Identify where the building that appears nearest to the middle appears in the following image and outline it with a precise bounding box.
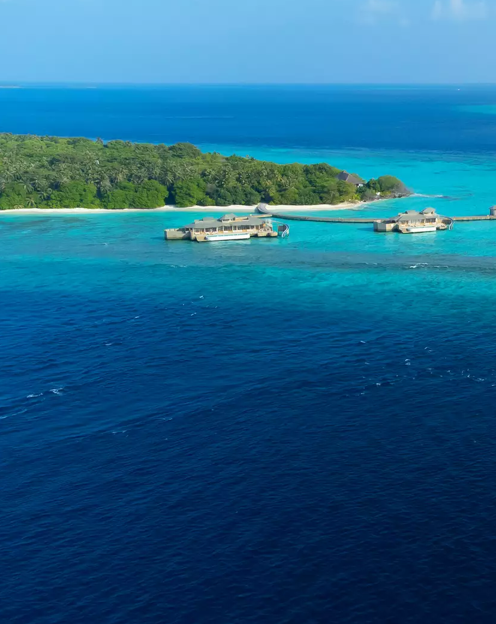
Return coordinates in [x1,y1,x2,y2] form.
[168,214,282,242]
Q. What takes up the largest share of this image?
water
